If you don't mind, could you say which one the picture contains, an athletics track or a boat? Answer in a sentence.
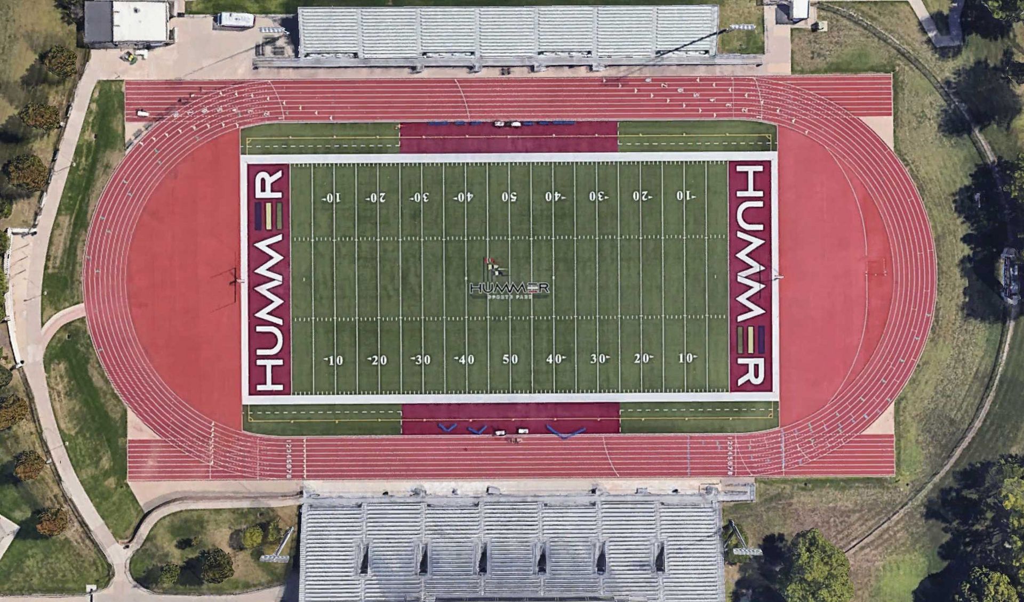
This aerial view contains an athletics track.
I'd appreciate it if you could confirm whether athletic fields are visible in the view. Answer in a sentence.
Yes, you can see an athletic field in this photo.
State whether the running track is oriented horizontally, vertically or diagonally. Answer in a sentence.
In this picture, the running track lies horizontally.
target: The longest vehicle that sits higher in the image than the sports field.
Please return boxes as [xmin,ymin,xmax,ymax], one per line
[217,12,253,27]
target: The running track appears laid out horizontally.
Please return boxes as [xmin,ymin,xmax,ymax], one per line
[83,76,936,480]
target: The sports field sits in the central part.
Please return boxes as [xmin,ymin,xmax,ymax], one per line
[240,122,780,434]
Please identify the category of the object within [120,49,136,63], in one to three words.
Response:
vehicle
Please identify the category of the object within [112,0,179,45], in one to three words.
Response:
building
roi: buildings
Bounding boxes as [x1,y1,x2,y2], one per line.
[790,0,809,18]
[112,0,179,45]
